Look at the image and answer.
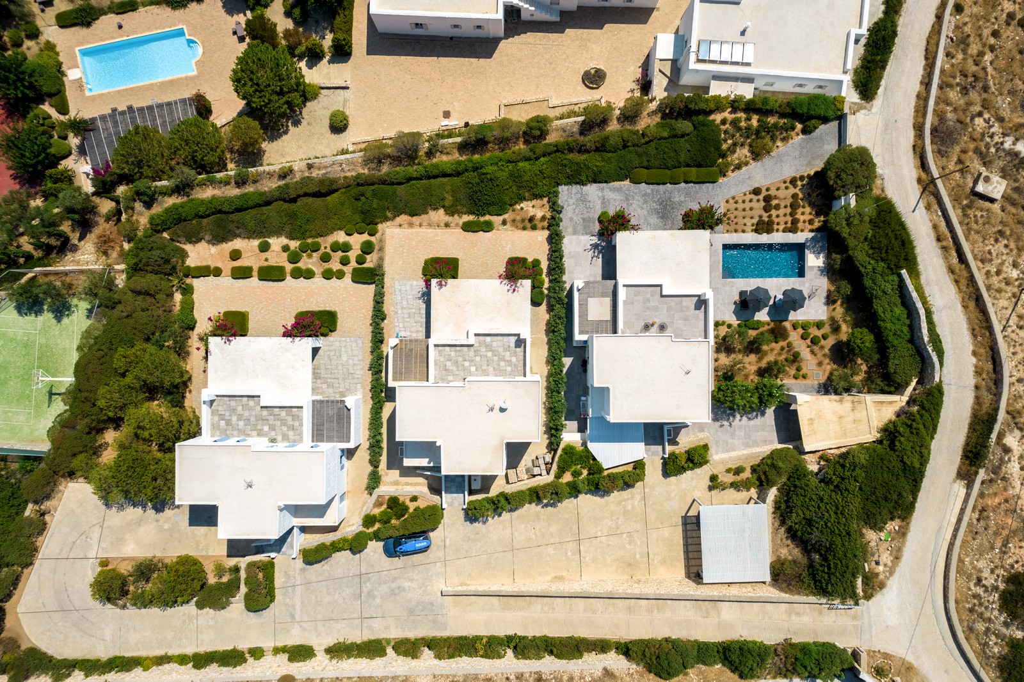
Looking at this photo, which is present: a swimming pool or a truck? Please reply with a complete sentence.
There is a swimming pool in the scene.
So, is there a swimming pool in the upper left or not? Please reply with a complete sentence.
Yes, a swimming pool is visible in the upper left.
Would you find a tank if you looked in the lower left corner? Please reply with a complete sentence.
No, there's no tank to be seen in the lower left corner.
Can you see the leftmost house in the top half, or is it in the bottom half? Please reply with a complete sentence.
You can find the leftmost house in the bottom half.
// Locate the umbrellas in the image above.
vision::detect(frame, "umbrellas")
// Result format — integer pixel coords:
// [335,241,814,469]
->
[747,287,771,312]
[782,288,806,312]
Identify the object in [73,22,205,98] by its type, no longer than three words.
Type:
swimming pool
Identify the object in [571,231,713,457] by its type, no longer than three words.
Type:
house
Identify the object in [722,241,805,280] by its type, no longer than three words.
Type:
swimming pool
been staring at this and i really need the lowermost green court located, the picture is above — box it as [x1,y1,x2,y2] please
[0,267,123,442]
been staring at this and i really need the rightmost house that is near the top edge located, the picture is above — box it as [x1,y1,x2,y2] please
[647,0,868,108]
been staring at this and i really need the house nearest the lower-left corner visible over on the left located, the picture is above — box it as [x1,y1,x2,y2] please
[175,337,363,557]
